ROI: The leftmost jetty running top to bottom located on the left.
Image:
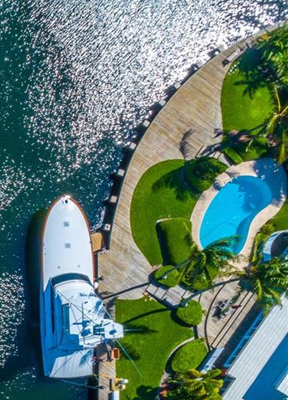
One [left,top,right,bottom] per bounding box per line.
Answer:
[95,299,114,400]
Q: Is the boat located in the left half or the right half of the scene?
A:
left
